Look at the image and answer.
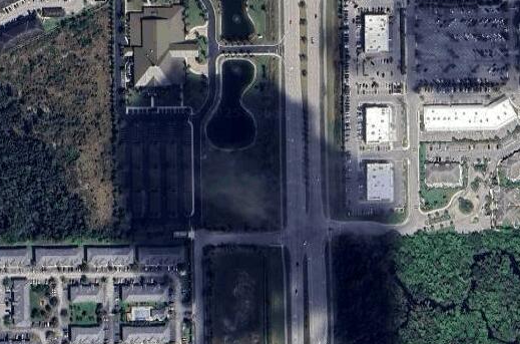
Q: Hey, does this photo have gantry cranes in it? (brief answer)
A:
No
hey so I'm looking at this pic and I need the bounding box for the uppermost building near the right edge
[424,97,519,130]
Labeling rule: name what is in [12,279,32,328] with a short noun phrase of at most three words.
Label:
building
